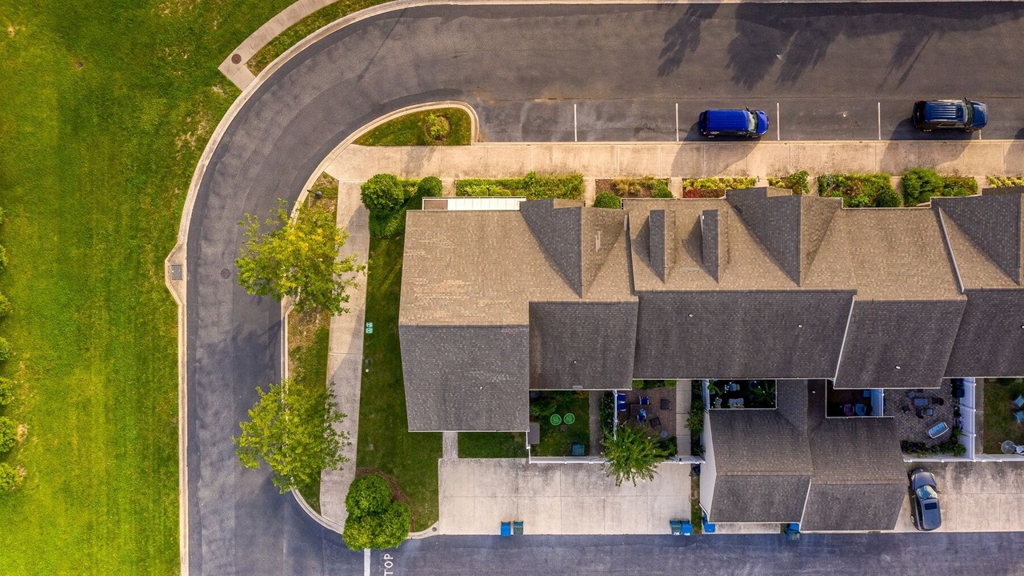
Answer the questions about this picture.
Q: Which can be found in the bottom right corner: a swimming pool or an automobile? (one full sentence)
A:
You can see an automobile in the bottom right corner.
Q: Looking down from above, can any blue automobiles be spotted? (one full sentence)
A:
Yes, the image includes a blue automobile.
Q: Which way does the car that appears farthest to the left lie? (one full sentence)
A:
The car that appears farthest to the left is oriented from left to right.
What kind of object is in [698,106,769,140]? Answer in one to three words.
car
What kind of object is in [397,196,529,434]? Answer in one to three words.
house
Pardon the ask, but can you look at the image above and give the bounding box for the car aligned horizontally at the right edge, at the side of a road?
[911,97,988,133]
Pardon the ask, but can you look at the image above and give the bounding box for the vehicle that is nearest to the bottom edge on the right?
[905,467,944,536]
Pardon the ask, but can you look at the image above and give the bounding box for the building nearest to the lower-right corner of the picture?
[797,415,905,531]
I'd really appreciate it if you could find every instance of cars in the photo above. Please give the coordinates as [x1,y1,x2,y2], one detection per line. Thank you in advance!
[698,106,769,140]
[911,97,988,133]
[905,467,944,536]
